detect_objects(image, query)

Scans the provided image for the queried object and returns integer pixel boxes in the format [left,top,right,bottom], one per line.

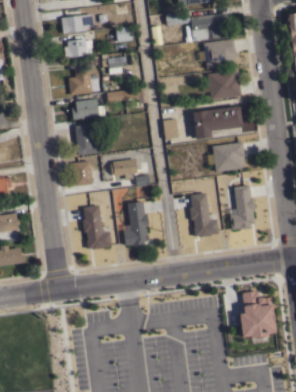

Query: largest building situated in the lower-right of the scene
[242,290,279,344]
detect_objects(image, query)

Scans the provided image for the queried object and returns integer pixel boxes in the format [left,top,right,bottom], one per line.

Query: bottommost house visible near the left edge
[0,246,25,266]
